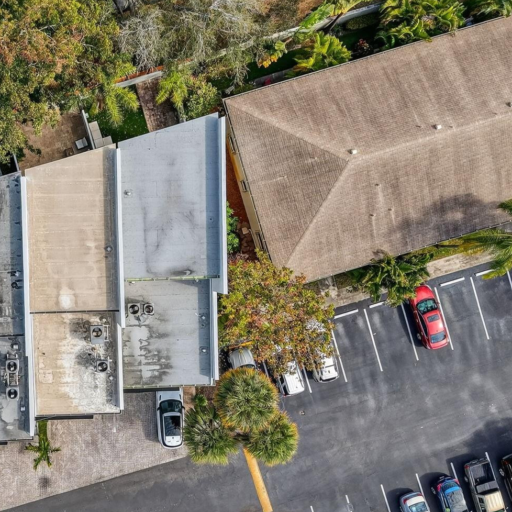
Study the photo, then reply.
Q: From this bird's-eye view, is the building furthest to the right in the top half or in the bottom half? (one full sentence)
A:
Seen from above, the building furthest to the right lies in the top half of the view.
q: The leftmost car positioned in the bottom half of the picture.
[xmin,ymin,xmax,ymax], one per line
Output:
[152,394,184,449]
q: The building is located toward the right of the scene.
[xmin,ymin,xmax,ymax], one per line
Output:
[221,13,512,292]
